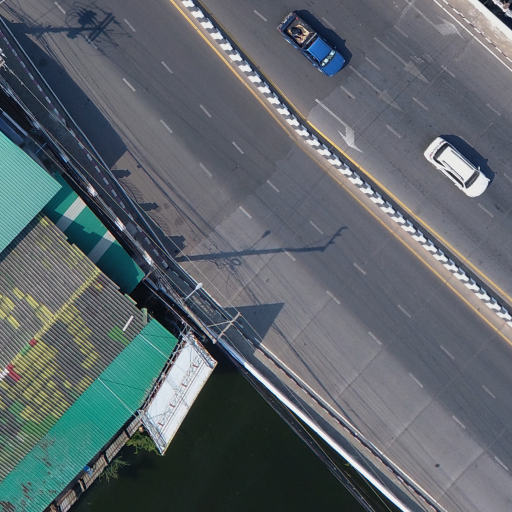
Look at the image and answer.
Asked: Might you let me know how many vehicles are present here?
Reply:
two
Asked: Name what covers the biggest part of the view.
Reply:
paved ground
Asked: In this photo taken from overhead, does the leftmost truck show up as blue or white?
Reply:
blue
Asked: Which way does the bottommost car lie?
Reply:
diagonally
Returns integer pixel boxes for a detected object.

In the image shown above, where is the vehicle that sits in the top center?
[275,12,344,75]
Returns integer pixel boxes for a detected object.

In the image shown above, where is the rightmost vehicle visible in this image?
[422,137,488,196]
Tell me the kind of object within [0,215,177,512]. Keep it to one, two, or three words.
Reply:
building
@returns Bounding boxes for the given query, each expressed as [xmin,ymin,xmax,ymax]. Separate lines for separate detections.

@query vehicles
[275,12,344,75]
[422,137,488,196]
